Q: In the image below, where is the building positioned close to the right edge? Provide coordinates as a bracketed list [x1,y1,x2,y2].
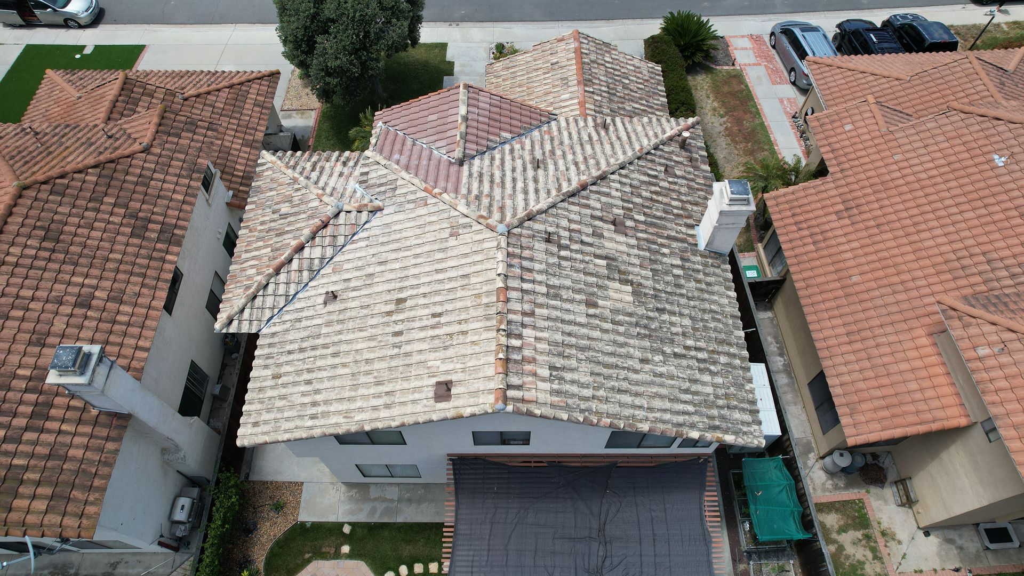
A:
[752,45,1024,526]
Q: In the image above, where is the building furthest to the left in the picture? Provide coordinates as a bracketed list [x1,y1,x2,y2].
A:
[0,65,287,556]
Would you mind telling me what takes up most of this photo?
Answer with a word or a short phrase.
buildings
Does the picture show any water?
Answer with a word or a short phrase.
No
